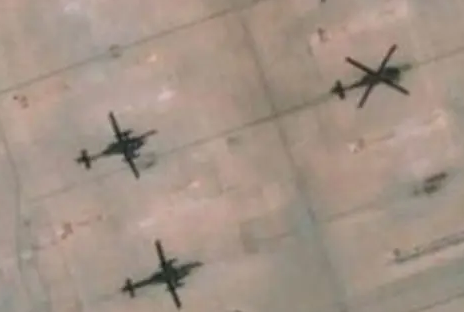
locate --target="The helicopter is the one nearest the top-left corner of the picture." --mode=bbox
[80,111,157,177]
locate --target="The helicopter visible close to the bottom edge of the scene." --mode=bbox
[125,242,202,310]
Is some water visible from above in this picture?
No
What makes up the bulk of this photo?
paved ground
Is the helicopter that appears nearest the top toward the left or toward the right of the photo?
right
